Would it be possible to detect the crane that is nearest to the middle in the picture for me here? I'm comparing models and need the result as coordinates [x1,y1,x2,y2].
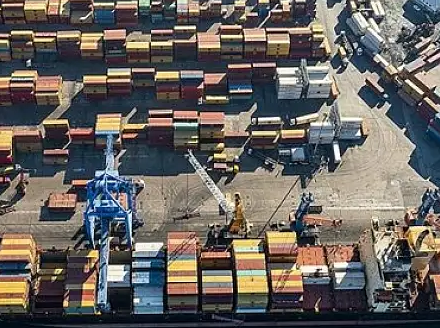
[173,147,259,241]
